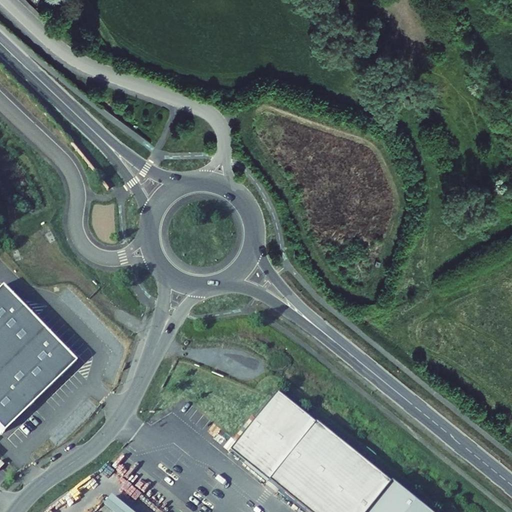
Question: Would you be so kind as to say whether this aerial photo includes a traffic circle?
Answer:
Yes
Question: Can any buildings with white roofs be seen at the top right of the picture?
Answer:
No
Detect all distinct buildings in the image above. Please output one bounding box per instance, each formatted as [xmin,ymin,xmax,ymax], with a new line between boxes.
[0,283,79,436]
[232,390,435,512]
[100,492,135,512]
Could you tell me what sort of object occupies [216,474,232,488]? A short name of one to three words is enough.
vehicle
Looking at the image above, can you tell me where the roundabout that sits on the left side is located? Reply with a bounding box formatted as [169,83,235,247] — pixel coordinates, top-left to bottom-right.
[134,165,268,314]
